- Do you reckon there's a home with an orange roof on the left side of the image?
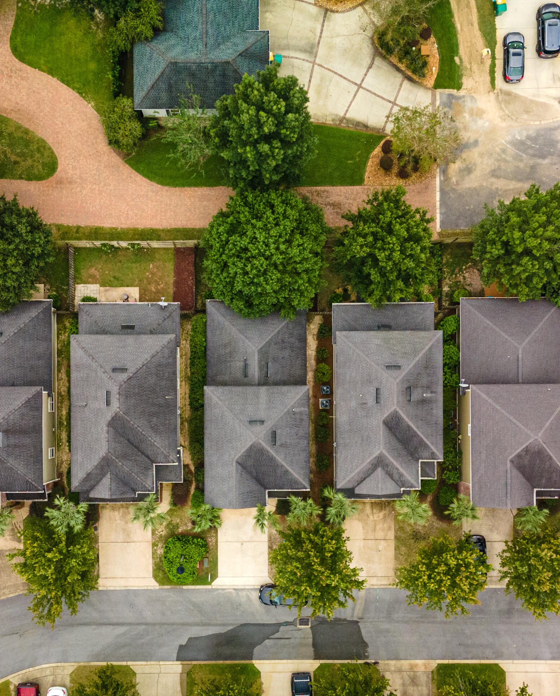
No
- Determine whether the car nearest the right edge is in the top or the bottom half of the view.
top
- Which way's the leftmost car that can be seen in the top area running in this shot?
from top to bottom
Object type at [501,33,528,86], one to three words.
car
